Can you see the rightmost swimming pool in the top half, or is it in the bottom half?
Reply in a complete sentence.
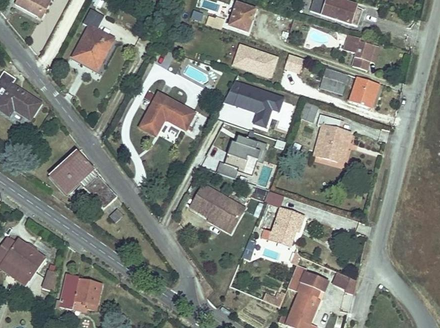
The top half of the photo is where the rightmost swimming pool is.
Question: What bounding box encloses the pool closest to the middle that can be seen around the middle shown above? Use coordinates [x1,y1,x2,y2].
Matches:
[252,162,276,189]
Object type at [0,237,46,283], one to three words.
house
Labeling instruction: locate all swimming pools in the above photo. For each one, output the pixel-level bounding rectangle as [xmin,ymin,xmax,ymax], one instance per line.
[252,162,276,189]
[304,28,346,48]
[262,248,280,260]
[195,0,232,20]
[179,58,222,88]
